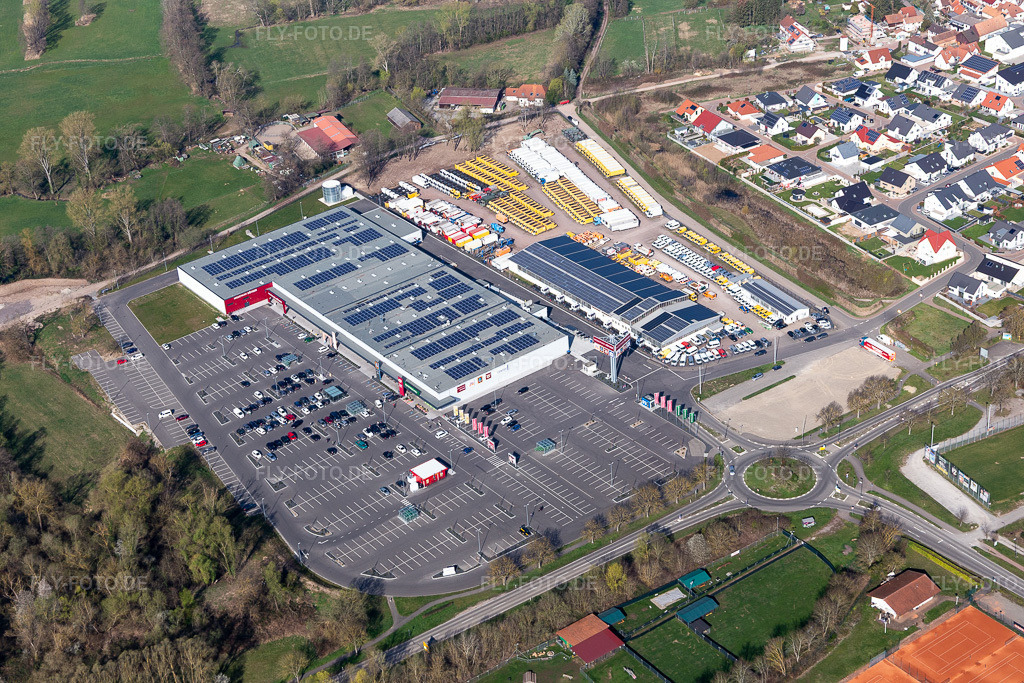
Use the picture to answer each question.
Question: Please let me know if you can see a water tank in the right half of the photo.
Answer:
No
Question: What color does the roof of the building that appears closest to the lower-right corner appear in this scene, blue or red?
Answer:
red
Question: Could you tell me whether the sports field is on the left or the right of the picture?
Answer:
right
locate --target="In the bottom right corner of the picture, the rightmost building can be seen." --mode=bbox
[865,572,943,626]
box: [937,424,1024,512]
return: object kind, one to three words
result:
sports field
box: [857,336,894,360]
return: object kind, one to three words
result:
truck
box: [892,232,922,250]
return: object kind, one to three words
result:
building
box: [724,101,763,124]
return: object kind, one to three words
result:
house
